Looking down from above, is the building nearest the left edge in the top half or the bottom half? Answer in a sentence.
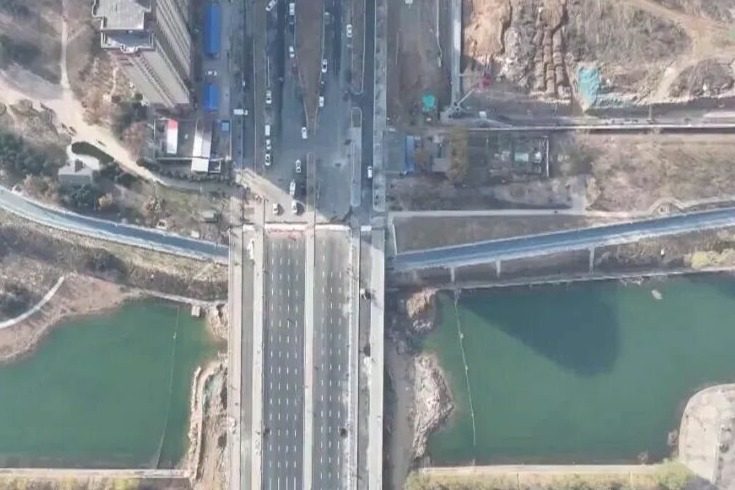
The top half of the photo is where the building nearest the left edge is.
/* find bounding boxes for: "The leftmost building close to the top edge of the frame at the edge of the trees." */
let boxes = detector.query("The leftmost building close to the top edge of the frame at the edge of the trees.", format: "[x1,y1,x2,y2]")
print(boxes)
[91,0,199,110]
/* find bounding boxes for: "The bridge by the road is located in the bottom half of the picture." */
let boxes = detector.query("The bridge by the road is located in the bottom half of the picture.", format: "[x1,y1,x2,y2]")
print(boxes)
[228,223,384,490]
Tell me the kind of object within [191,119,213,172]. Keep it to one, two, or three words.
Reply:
building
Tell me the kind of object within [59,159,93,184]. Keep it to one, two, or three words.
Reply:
building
